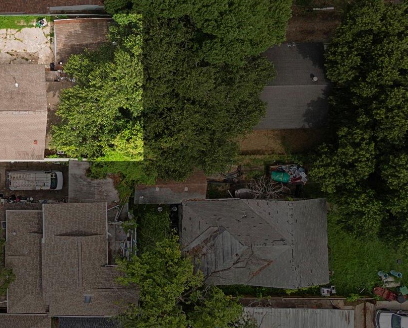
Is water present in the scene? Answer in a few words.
No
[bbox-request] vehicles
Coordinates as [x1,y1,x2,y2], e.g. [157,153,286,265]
[5,168,63,193]
[374,309,408,328]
